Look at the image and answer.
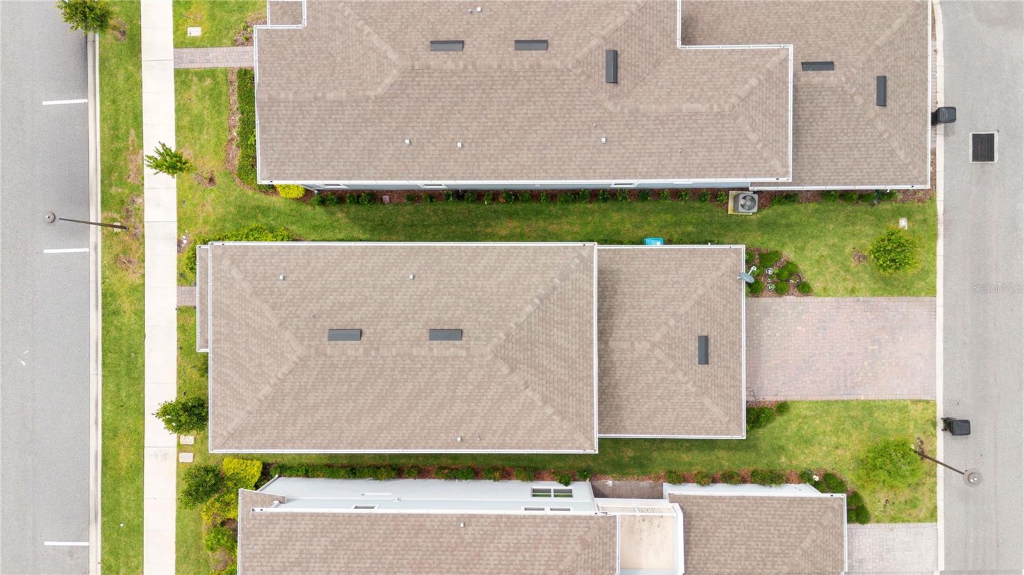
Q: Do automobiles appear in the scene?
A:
No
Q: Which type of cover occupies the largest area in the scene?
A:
buildings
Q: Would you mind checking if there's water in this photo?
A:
No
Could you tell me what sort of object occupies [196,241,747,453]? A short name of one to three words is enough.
house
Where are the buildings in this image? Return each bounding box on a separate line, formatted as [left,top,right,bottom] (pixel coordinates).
[196,241,747,453]
[254,0,931,193]
[237,478,847,575]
